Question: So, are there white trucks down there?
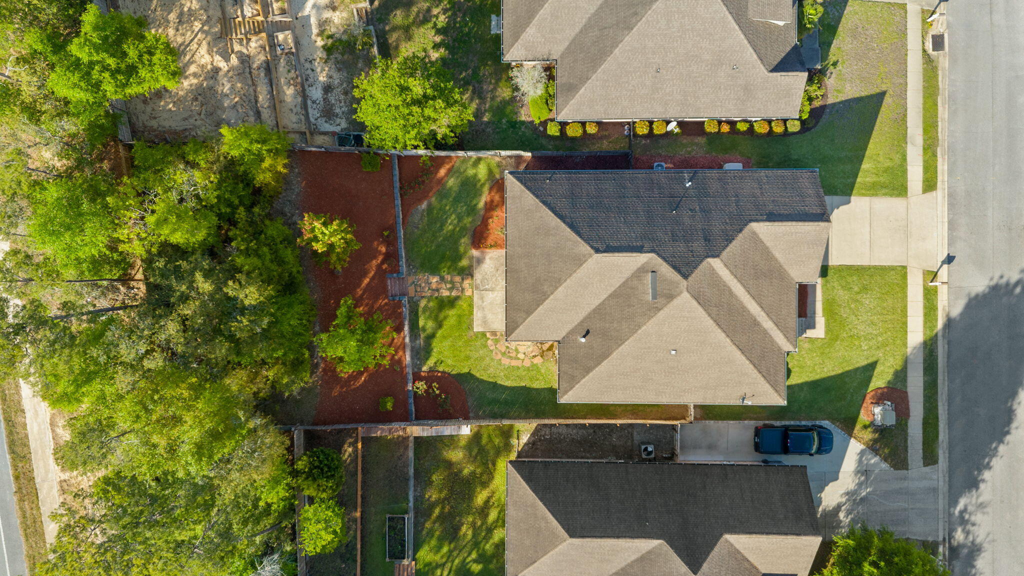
No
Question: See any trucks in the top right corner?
No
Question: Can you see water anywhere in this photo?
No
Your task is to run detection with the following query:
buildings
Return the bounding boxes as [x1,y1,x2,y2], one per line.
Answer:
[505,460,821,576]
[500,0,810,122]
[503,168,831,406]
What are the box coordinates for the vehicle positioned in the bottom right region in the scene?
[751,425,830,458]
